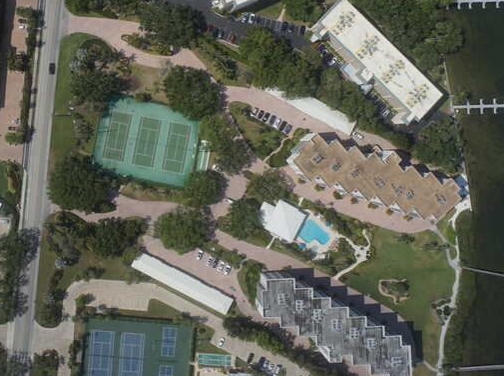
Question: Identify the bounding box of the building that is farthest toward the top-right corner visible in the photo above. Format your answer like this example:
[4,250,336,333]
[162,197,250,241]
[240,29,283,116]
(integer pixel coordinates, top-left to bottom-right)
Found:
[306,0,442,121]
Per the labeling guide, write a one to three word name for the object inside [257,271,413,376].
building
